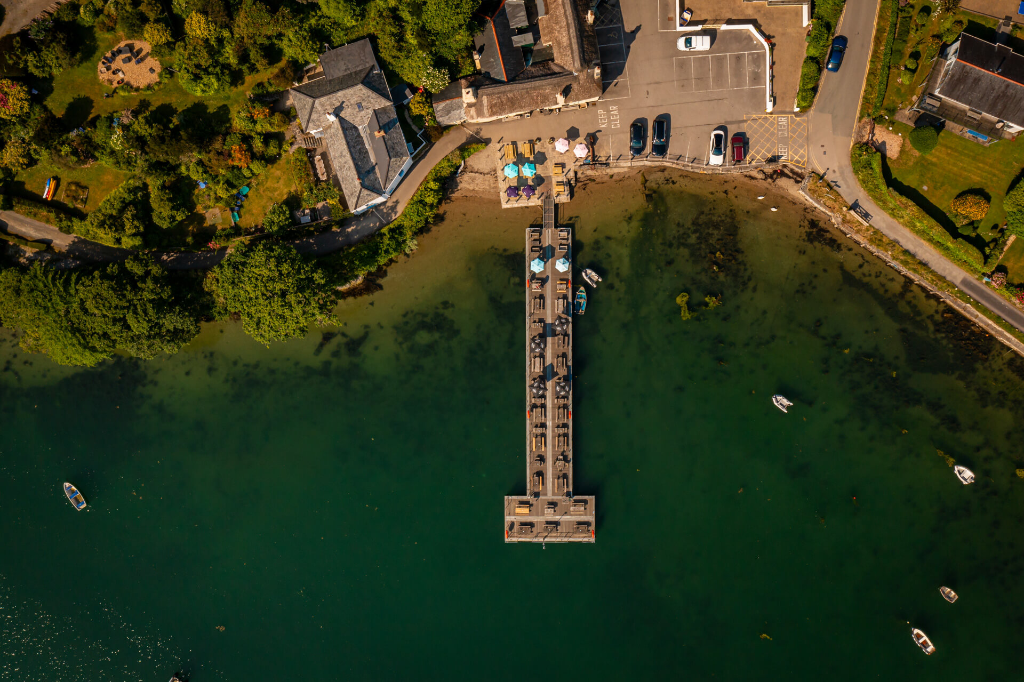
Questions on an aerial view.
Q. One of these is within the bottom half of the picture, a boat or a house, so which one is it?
boat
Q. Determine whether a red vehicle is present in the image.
Yes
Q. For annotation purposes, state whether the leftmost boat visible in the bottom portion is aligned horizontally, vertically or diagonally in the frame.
diagonally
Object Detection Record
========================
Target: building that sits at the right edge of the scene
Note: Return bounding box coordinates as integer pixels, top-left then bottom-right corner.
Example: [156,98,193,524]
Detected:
[935,32,1024,133]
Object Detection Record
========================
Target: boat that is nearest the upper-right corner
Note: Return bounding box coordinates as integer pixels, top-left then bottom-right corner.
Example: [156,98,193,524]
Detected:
[680,6,693,26]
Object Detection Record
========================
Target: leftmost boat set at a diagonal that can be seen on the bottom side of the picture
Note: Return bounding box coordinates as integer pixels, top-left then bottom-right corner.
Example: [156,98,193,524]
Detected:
[63,484,86,512]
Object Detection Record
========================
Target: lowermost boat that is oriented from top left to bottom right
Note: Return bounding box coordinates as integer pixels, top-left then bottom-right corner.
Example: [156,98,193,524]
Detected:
[914,630,937,657]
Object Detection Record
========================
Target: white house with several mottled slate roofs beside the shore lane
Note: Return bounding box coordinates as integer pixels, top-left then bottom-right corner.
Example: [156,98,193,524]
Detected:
[289,37,411,215]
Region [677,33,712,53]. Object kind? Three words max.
vehicle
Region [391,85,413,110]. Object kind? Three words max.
shed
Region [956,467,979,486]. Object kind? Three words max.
boat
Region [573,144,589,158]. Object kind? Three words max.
umbrella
